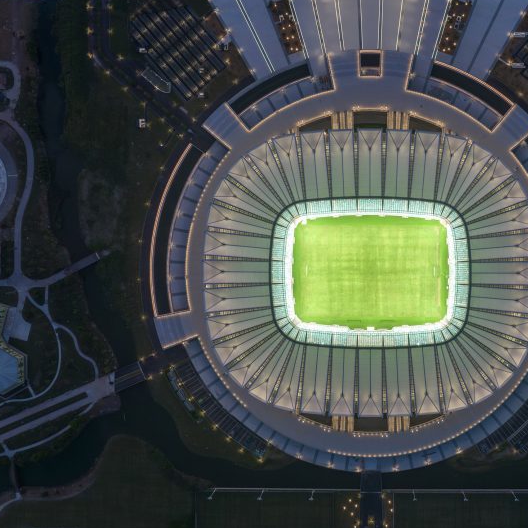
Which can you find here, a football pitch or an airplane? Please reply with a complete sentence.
I can see a football pitch in this picture.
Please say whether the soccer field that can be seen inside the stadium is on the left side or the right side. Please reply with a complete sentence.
You can find the soccer field that can be seen inside the stadium on the right side of the picture.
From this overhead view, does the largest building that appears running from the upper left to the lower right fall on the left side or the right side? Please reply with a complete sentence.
You can find the largest building that appears running from the upper left to the lower right on the left side of the picture.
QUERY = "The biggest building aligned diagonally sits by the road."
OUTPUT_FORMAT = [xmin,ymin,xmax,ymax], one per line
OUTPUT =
[141,67,172,94]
